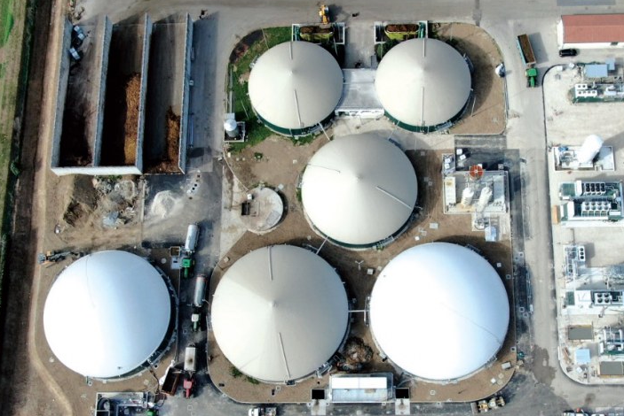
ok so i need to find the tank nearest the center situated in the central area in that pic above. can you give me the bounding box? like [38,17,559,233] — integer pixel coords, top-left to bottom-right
[296,133,423,252]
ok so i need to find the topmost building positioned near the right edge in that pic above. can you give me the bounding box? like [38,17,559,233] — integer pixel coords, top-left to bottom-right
[558,14,624,51]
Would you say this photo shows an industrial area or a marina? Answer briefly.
industrial area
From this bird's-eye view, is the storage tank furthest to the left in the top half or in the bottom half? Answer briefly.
bottom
